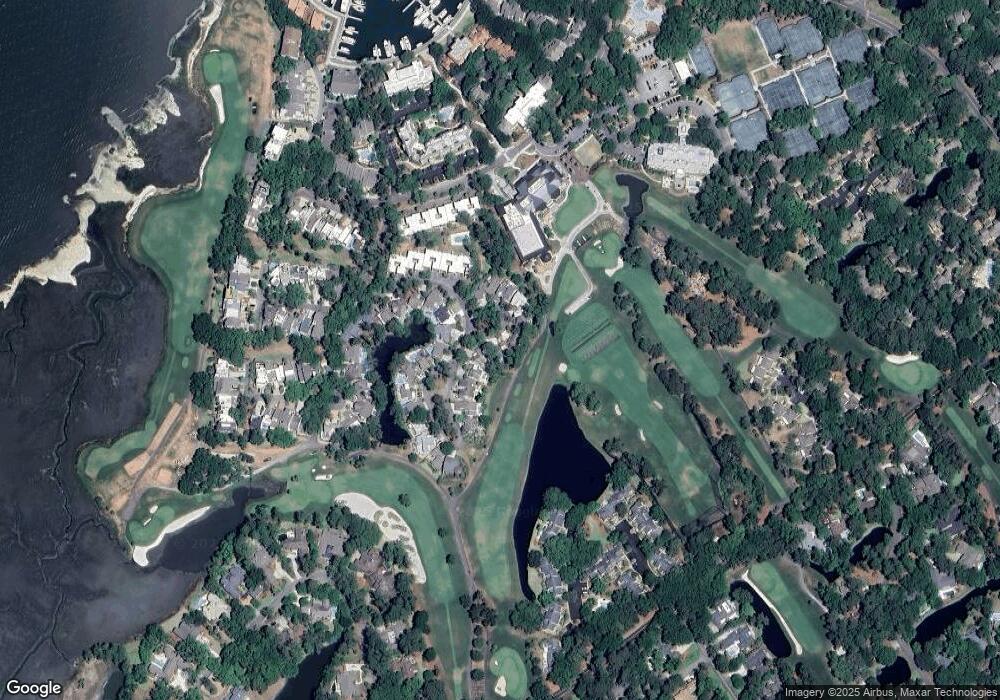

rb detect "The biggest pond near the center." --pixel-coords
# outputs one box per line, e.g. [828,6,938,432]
[374,318,431,445]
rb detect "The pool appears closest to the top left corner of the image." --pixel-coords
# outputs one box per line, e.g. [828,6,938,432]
[357,146,376,163]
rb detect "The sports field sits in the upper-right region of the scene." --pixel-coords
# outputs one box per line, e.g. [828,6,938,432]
[710,21,771,77]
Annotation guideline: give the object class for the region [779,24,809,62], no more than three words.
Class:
tennis court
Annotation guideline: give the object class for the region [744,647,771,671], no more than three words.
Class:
house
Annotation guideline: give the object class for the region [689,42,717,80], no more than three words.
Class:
tennis court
